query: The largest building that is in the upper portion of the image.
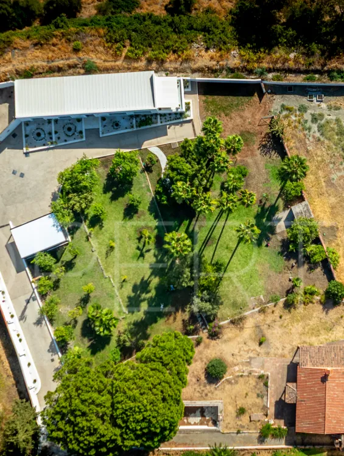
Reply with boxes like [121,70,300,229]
[14,71,191,125]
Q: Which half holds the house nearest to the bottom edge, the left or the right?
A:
right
